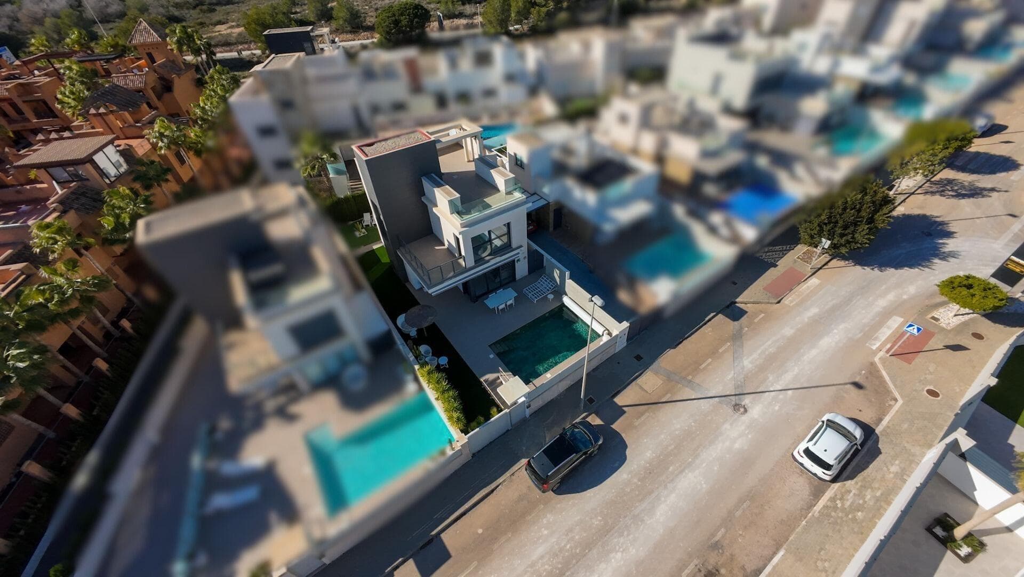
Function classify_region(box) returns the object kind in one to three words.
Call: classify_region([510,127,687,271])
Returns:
house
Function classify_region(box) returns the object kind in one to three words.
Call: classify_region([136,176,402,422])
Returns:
house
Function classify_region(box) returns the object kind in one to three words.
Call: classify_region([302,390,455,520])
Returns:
swimming pool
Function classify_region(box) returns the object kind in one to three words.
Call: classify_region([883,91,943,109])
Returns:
swimming pool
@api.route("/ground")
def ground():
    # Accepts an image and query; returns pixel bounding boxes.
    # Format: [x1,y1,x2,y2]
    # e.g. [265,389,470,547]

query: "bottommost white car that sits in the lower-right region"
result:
[799,416,865,482]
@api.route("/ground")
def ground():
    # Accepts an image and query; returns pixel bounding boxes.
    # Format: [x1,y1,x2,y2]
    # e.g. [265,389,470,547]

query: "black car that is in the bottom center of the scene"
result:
[525,423,601,489]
